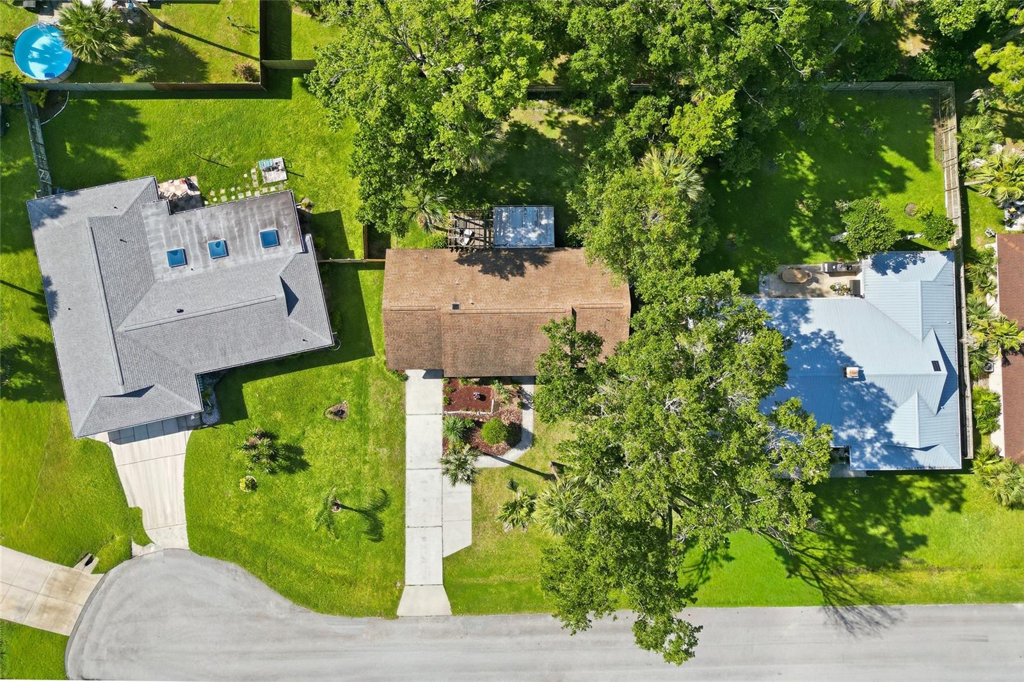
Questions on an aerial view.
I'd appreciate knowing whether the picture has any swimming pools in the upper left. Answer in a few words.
Yes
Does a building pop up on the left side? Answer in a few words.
Yes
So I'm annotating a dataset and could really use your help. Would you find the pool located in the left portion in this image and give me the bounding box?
[12,17,84,83]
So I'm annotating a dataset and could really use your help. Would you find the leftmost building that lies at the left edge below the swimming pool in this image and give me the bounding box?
[26,174,335,441]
